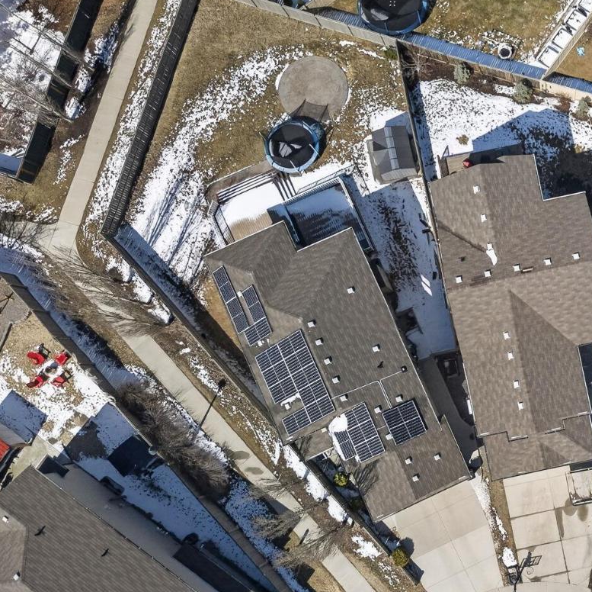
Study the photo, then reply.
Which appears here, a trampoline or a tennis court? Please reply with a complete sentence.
There is a trampoline in the scene.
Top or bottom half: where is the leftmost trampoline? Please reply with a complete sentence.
The leftmost trampoline is in the top half of the image.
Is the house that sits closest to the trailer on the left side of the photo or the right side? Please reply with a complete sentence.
The house that sits closest to the trailer appears in the right half of the scene.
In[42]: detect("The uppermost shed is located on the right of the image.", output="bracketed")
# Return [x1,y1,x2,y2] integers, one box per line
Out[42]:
[369,126,416,182]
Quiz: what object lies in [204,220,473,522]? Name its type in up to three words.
house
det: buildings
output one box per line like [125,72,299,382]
[429,154,592,480]
[369,126,416,182]
[0,463,269,592]
[204,220,473,522]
